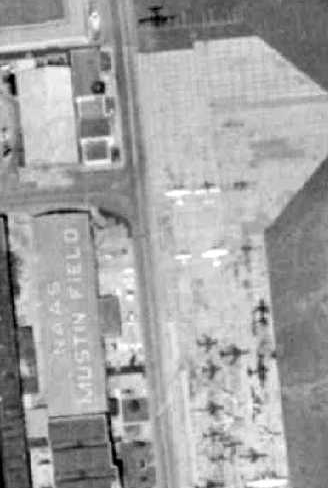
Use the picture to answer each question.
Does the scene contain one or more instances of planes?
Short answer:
Yes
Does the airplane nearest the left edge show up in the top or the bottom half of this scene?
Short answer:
top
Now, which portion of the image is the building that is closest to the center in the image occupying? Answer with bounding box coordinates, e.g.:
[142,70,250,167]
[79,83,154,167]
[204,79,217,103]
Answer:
[101,294,122,337]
